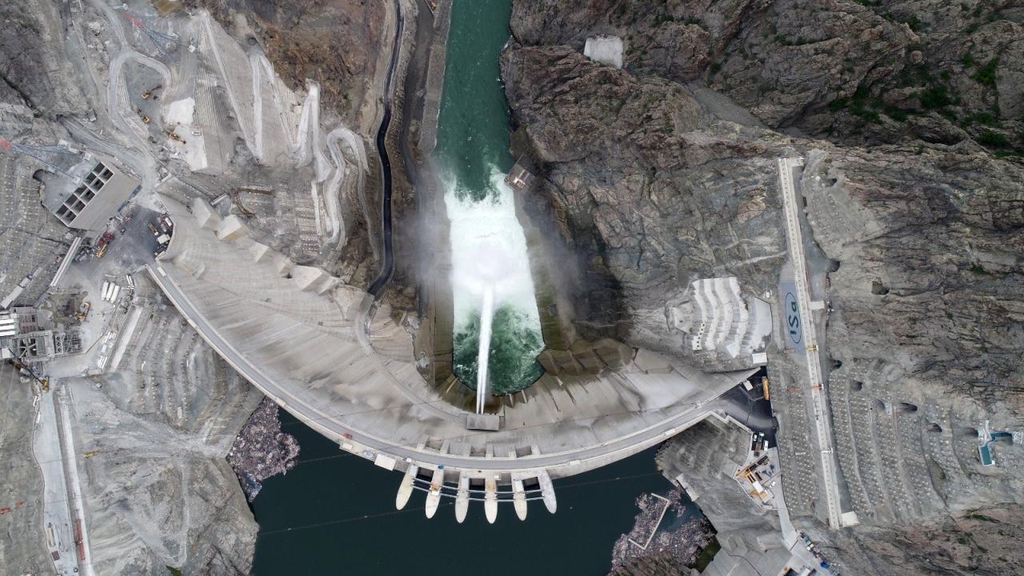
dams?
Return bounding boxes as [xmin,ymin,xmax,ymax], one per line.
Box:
[150,193,763,524]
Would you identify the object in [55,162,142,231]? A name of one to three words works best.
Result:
building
